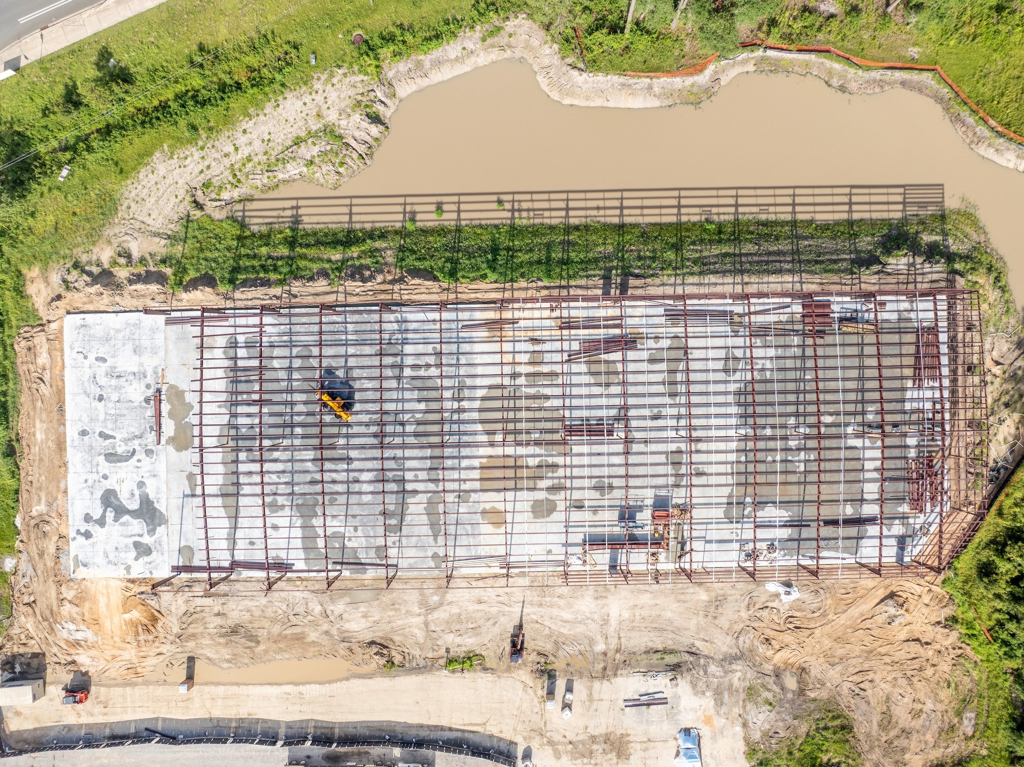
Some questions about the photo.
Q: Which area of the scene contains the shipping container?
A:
bottom left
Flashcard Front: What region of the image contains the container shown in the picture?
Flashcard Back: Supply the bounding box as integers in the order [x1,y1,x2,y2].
[0,677,45,704]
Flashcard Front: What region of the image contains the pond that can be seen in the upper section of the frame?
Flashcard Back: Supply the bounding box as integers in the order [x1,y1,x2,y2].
[230,58,1024,312]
